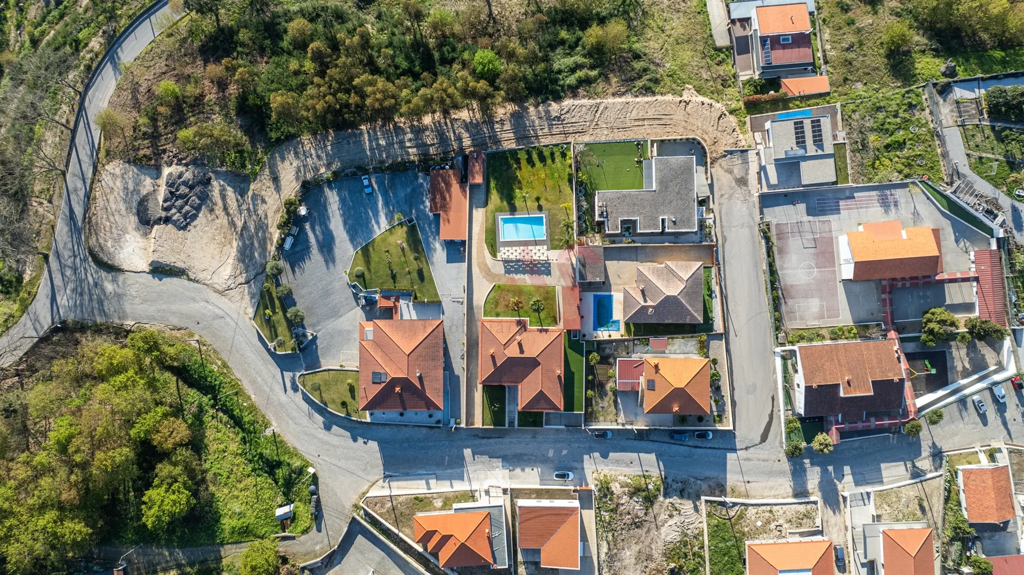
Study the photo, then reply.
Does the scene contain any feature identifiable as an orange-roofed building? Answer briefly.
Yes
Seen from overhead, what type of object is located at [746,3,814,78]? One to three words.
house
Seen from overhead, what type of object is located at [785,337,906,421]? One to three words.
building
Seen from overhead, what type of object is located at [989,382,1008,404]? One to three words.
car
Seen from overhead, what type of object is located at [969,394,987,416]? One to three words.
car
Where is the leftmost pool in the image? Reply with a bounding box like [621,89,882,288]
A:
[498,213,547,243]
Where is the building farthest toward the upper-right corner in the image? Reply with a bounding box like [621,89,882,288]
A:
[976,194,1010,226]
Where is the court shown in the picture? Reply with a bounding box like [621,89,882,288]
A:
[775,220,840,322]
